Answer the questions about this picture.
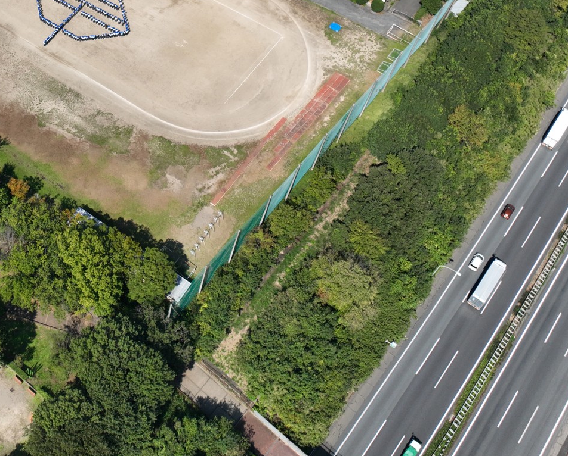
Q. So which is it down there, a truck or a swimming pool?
truck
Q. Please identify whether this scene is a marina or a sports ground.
sports ground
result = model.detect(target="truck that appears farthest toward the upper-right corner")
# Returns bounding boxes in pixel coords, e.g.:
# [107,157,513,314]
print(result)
[539,113,568,153]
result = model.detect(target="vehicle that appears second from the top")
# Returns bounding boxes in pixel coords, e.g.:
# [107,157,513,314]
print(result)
[500,203,514,221]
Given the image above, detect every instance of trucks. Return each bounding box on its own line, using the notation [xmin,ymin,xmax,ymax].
[465,263,503,314]
[398,429,427,456]
[539,113,568,153]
